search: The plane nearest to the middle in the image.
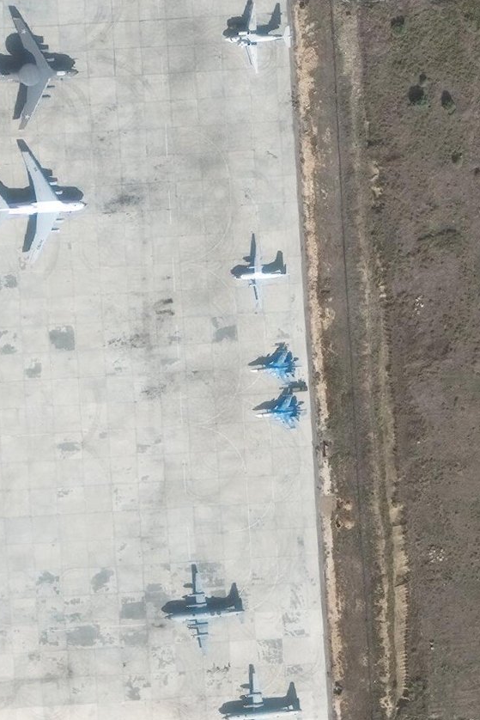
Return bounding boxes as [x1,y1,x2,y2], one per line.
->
[251,350,300,384]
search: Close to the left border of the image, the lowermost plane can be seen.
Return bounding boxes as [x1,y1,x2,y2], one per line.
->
[0,153,88,264]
